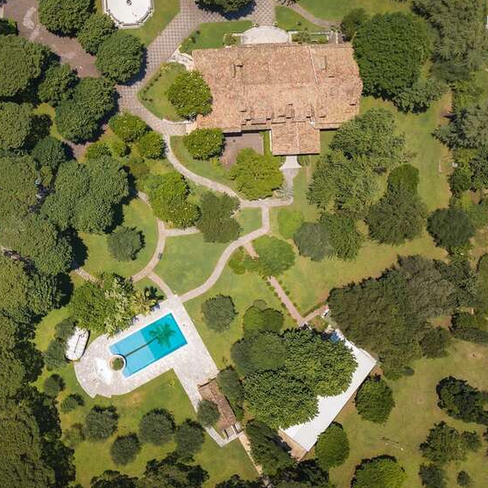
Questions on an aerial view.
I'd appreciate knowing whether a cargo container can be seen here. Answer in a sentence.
No, no cargo container can be seen from above.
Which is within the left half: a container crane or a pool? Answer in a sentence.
What appears within the left half is a pool.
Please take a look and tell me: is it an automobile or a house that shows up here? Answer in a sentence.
The one in the frame is a house.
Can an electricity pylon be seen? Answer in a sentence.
No, the frame has no electricity pylon in it.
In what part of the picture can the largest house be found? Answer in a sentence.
The largest house appears toward the top of the photo.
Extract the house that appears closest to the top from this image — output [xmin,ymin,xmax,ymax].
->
[189,44,362,154]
